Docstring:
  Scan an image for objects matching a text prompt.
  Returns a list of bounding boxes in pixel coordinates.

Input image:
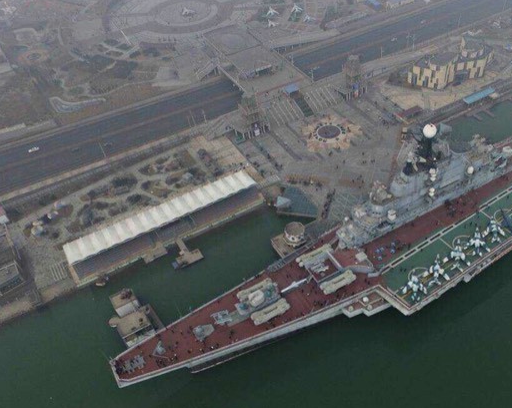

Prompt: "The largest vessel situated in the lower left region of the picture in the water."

[108,288,163,347]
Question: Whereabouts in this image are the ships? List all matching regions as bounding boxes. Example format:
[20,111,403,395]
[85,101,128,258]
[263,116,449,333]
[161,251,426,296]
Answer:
[108,288,163,347]
[99,119,512,383]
